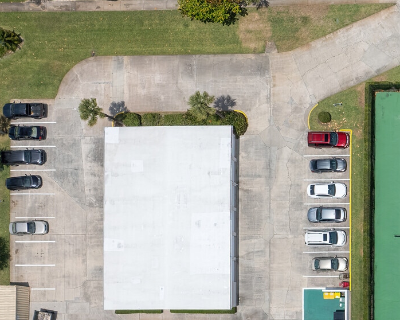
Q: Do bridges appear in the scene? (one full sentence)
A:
No, this view has no bridge in it.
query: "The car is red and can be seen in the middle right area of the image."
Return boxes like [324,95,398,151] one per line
[307,128,350,148]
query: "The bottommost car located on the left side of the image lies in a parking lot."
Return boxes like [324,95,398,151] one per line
[9,218,50,236]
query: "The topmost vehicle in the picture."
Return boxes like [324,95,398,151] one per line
[2,100,50,119]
